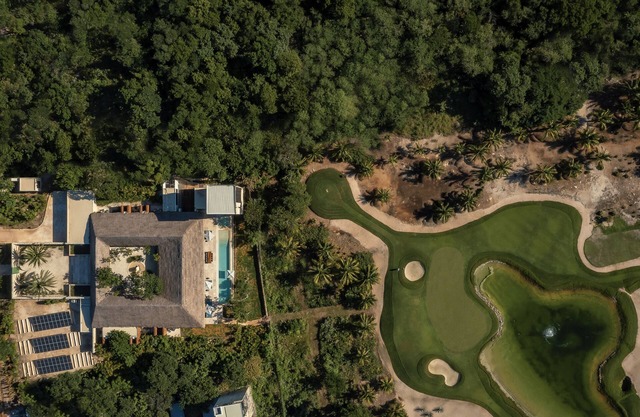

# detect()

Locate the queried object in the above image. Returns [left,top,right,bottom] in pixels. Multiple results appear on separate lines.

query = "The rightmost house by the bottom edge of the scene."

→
[214,385,253,417]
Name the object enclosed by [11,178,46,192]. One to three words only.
shed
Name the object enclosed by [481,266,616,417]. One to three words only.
pond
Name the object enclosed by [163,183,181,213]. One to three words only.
building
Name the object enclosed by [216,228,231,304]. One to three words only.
swimming pool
